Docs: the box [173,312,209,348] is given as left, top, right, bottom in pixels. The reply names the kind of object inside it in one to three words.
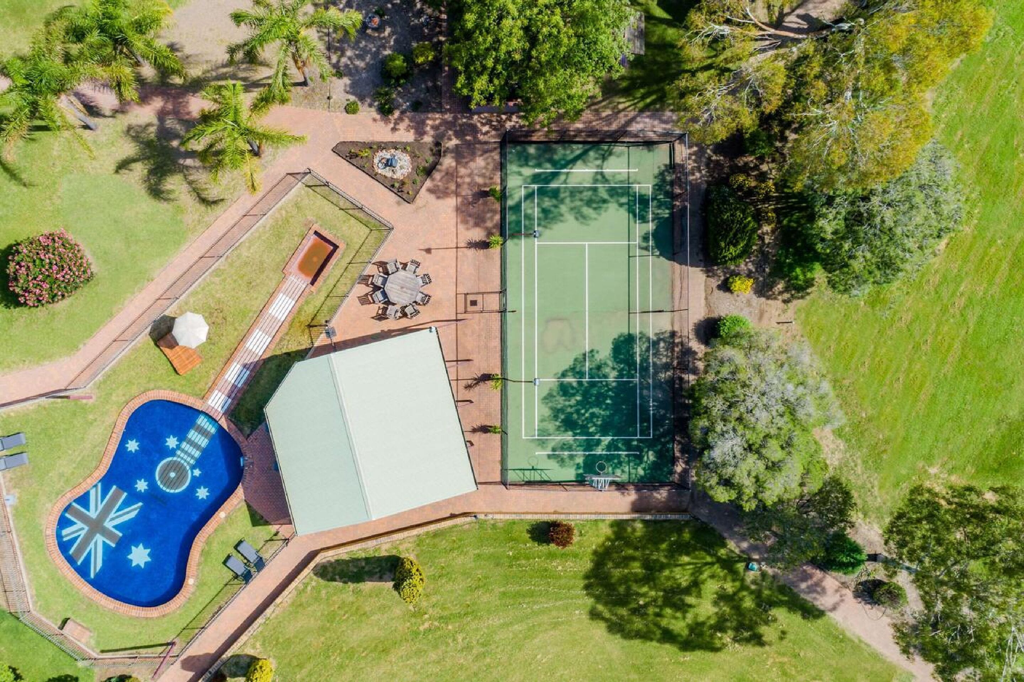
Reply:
umbrella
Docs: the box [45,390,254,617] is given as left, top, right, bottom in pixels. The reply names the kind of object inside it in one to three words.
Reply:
swimming pool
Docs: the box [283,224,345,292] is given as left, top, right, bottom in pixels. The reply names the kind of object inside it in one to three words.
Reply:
pond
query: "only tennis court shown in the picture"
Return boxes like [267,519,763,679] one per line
[503,142,673,482]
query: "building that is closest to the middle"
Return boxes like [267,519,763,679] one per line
[262,317,480,536]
